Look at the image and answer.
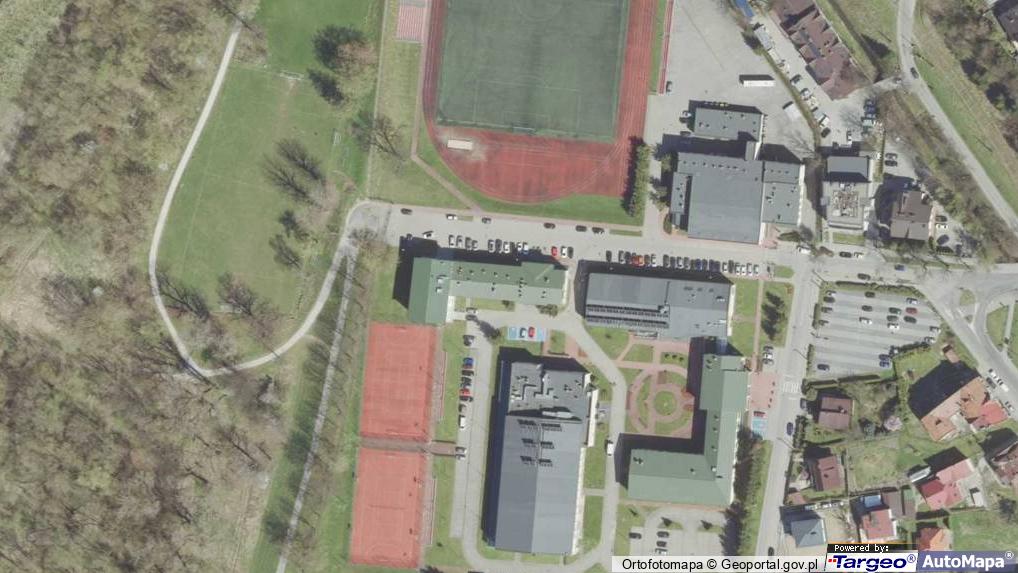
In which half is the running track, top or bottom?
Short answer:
top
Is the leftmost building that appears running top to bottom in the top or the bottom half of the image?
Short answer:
bottom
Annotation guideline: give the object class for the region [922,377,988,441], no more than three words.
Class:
house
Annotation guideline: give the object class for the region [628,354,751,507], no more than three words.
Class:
building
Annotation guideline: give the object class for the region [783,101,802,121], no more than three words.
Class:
vehicle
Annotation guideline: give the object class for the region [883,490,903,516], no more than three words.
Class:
shed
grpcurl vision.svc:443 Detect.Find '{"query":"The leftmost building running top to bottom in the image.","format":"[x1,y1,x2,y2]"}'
[495,362,594,554]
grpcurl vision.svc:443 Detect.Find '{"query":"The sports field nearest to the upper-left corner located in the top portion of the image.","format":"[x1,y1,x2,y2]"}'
[176,62,345,316]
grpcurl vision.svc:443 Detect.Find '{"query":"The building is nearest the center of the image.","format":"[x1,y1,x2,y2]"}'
[409,258,570,324]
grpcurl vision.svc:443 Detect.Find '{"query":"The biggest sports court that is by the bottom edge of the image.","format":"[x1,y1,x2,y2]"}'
[351,449,424,568]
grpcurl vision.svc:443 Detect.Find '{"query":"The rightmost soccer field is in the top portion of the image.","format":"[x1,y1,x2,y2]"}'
[436,0,627,142]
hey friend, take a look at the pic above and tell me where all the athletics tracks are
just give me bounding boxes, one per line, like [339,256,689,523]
[422,0,657,204]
